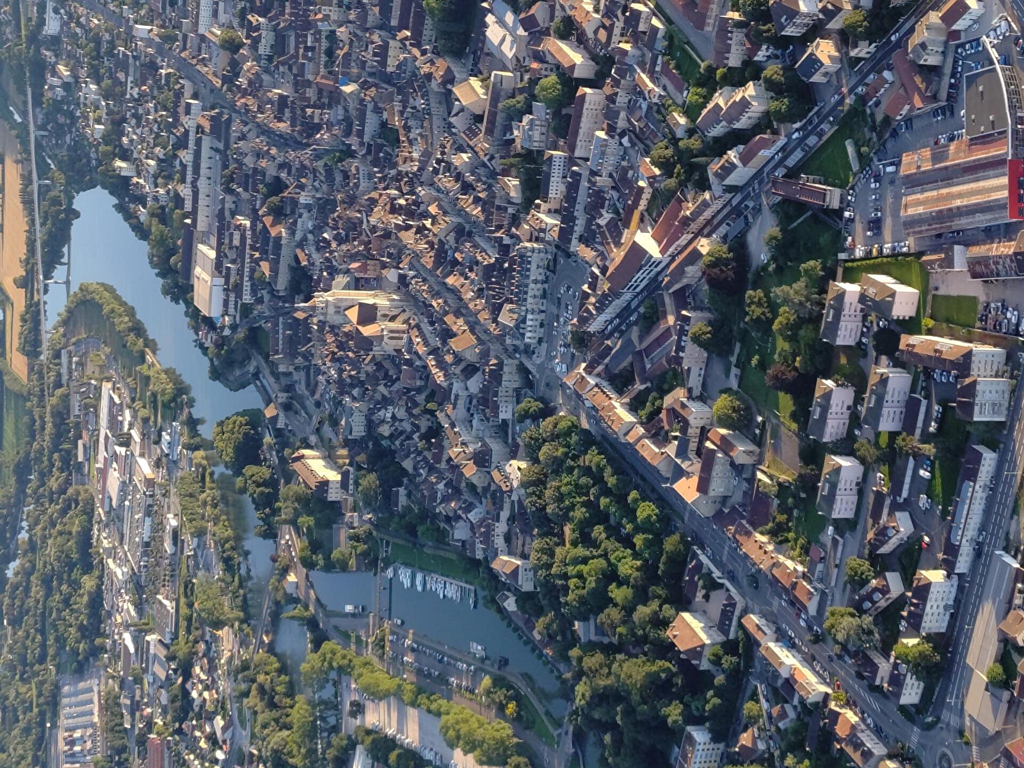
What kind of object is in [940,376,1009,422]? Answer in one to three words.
building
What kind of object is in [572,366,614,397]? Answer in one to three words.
house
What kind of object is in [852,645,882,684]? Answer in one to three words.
house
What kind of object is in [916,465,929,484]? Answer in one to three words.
vehicle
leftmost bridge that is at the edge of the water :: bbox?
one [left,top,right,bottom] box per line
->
[23,0,59,436]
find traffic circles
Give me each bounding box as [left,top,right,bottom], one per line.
[907,707,984,768]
